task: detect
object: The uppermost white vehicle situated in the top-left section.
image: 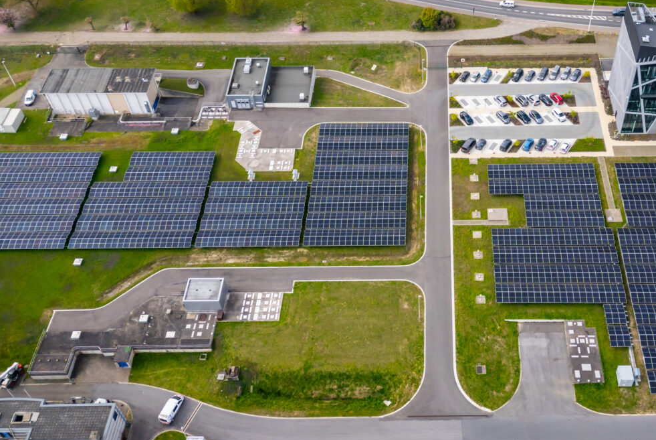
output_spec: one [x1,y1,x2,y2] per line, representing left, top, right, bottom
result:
[21,87,39,107]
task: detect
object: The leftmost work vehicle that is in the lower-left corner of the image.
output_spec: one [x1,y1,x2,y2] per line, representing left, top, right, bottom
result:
[0,361,26,391]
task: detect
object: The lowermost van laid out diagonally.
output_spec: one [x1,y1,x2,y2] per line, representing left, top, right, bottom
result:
[156,394,186,424]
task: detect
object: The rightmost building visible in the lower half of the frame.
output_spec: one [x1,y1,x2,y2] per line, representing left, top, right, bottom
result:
[183,278,228,309]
